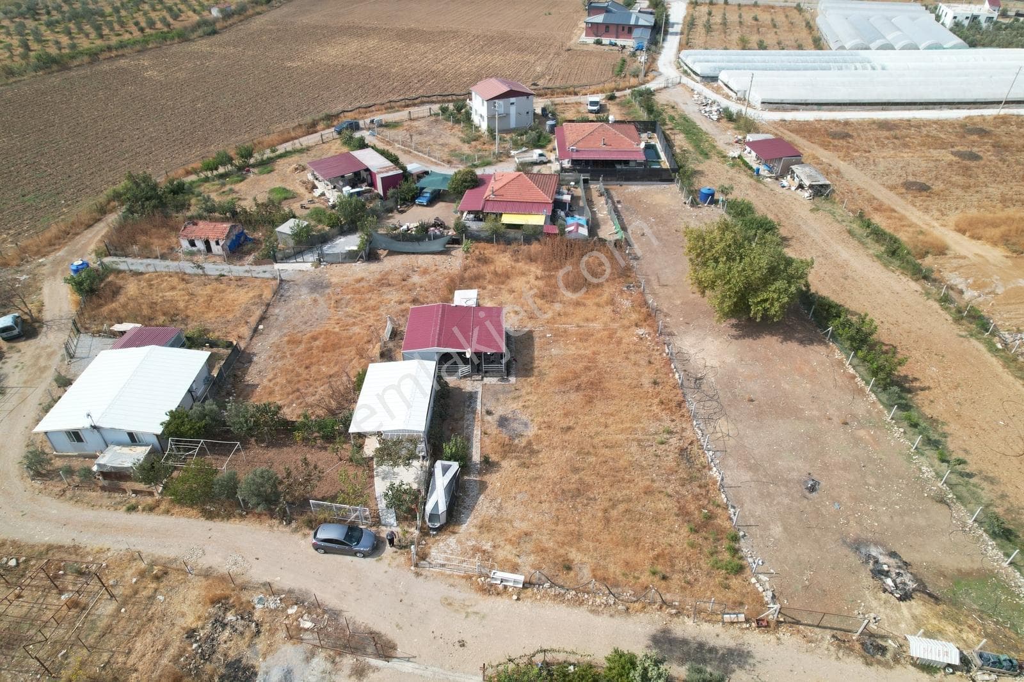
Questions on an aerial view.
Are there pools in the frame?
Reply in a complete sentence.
Yes, you can see a pool in this photo.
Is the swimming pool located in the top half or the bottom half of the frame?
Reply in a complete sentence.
It is in the top half that the swimming pool appears.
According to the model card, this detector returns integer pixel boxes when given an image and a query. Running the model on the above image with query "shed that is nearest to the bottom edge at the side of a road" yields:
[903,625,969,672]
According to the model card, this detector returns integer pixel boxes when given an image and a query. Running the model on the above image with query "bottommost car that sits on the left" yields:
[307,525,378,561]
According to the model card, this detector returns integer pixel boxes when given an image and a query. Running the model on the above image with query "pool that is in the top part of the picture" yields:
[641,141,669,169]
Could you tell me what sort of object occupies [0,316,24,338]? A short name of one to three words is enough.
car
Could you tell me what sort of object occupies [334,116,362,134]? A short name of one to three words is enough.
car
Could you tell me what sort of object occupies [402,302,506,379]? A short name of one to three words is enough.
house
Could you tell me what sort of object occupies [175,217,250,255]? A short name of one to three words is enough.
shed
